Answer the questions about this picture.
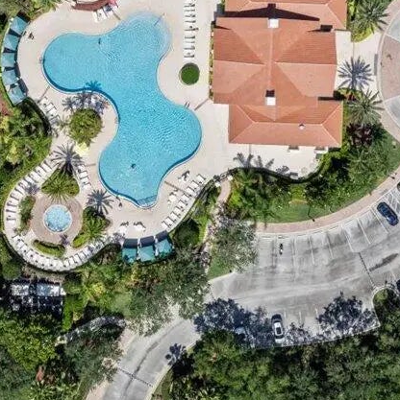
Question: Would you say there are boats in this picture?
No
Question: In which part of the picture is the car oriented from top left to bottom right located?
right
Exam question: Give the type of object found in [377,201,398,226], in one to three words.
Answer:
car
